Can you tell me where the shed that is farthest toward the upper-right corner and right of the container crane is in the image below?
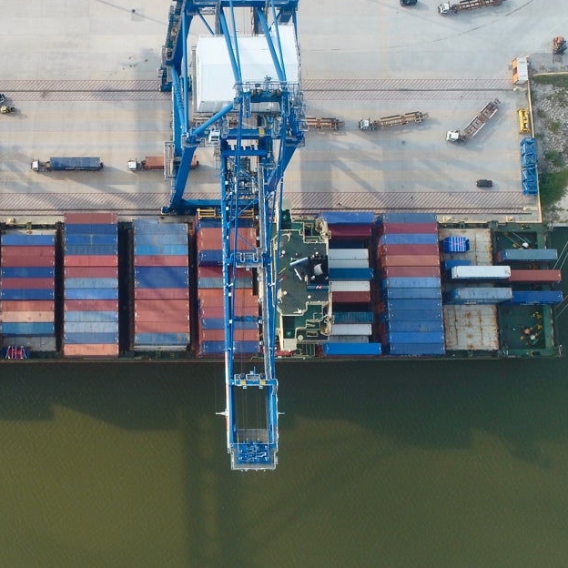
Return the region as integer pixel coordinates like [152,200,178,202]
[507,53,532,83]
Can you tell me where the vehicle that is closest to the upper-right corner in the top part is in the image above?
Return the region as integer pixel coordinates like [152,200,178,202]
[551,34,568,61]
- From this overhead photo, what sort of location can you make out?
port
